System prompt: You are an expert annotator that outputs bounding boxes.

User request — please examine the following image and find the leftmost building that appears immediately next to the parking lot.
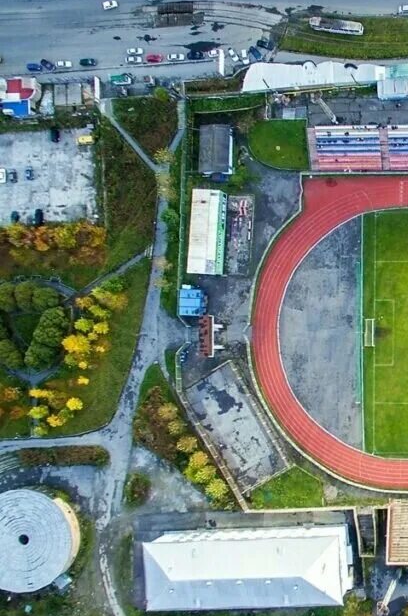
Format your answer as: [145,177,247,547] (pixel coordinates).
[0,78,51,122]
